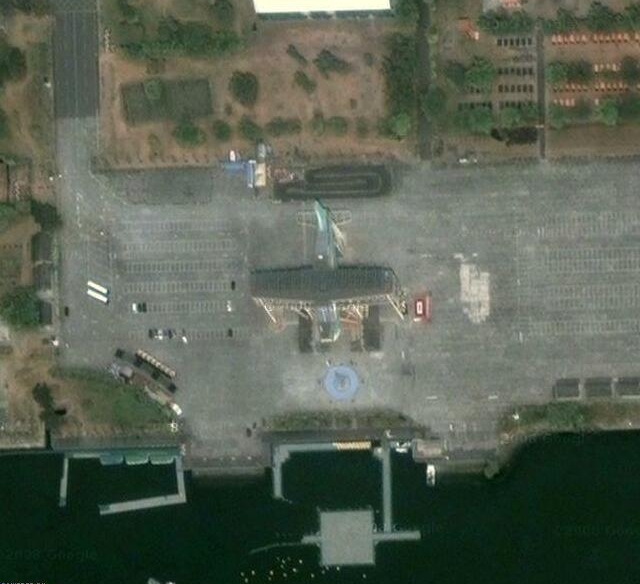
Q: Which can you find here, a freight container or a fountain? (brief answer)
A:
fountain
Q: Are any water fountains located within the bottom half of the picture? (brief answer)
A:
Yes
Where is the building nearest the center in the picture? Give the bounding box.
[251,202,406,352]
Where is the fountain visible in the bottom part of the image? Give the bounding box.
[322,364,359,400]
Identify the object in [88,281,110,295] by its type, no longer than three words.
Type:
vehicle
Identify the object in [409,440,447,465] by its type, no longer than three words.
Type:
building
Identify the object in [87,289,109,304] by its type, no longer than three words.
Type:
vehicle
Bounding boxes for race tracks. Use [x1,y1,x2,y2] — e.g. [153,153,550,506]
[274,164,392,198]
